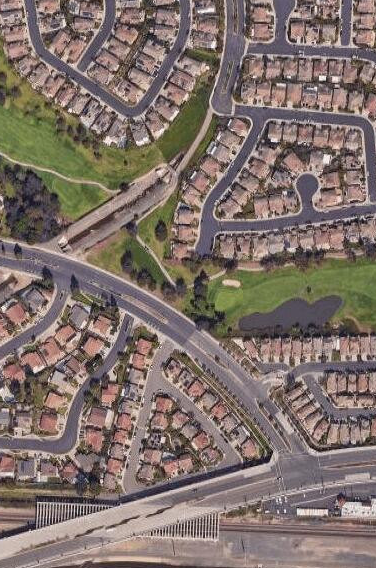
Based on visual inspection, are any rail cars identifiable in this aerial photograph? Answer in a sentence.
No, there isn't any rail car down there.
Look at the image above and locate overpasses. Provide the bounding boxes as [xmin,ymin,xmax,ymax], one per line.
[0,460,276,568]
